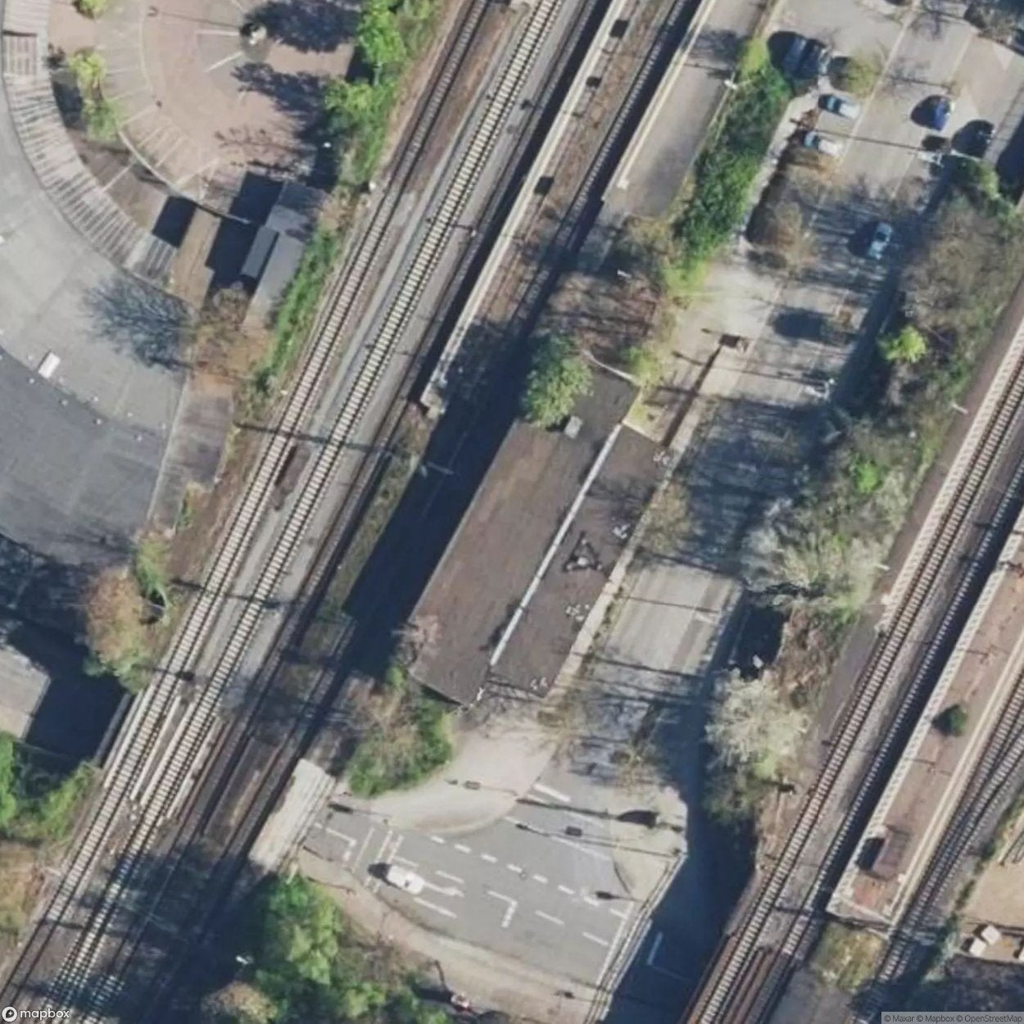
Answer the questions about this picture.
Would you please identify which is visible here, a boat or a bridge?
bridge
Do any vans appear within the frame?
Yes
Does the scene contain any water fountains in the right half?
No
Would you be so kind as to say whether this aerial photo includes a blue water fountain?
No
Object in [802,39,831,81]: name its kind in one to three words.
car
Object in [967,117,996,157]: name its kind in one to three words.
car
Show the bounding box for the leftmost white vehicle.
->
[383,865,426,895]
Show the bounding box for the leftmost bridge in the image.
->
[94,686,338,874]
